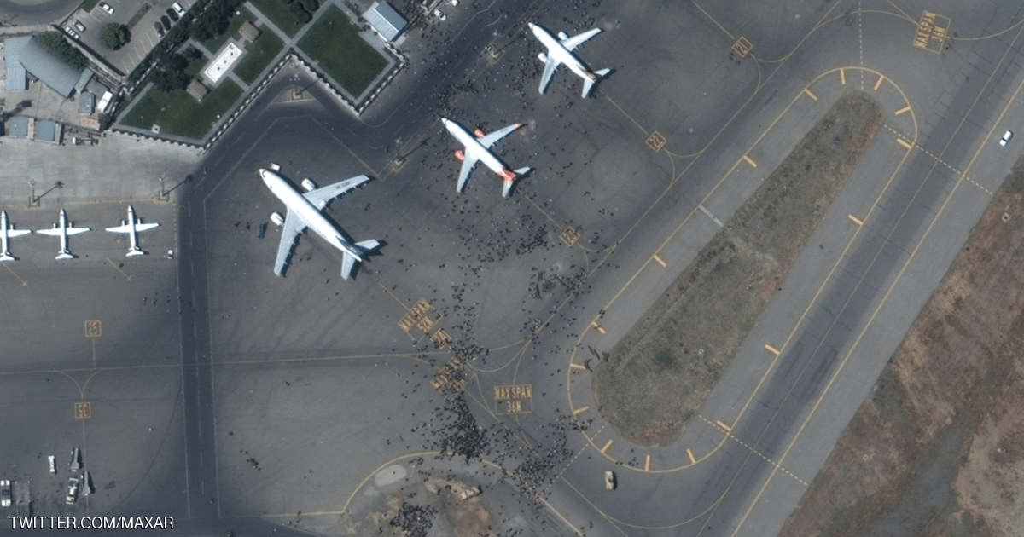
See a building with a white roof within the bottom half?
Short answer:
No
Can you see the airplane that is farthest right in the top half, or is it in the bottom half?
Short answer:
top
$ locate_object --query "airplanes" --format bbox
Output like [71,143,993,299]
[260,169,381,278]
[529,22,611,97]
[442,118,531,196]
[36,207,89,256]
[105,205,158,254]
[0,209,30,257]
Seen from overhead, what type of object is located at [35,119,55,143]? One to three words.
shed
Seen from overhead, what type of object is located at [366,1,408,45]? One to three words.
building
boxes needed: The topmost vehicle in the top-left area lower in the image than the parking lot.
[96,90,114,113]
